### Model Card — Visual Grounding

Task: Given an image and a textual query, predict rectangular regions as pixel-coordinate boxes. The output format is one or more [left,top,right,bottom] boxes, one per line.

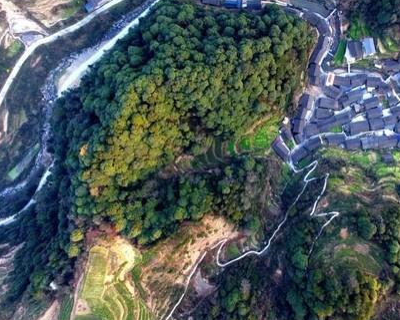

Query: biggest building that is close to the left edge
[17,29,47,42]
